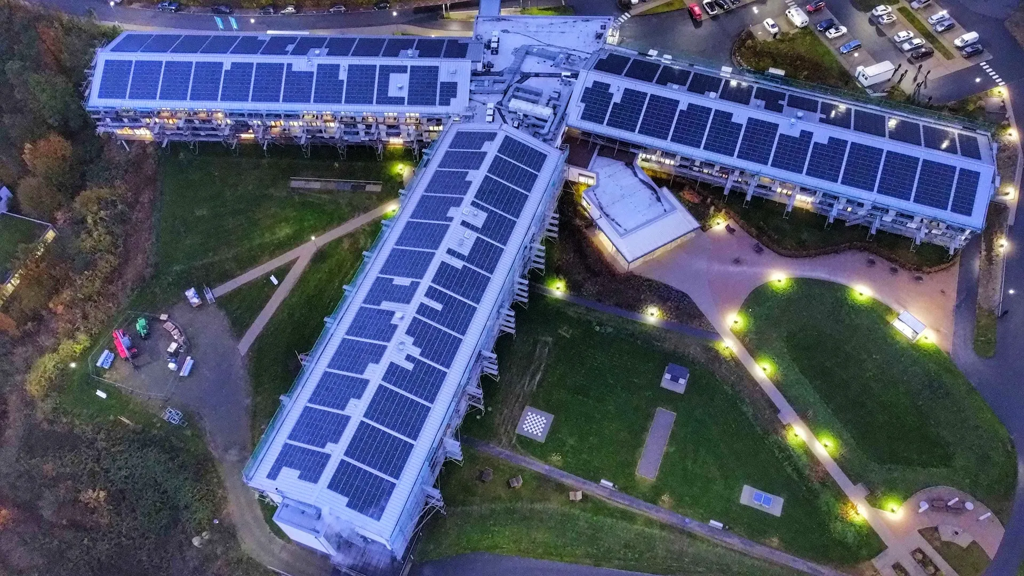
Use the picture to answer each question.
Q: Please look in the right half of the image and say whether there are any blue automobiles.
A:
Yes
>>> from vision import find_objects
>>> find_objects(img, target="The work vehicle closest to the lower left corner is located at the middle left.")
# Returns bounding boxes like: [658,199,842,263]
[108,323,135,371]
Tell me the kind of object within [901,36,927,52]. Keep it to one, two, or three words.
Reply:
car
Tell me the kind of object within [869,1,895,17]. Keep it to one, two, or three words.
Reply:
car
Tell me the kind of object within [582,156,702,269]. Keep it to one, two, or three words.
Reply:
building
